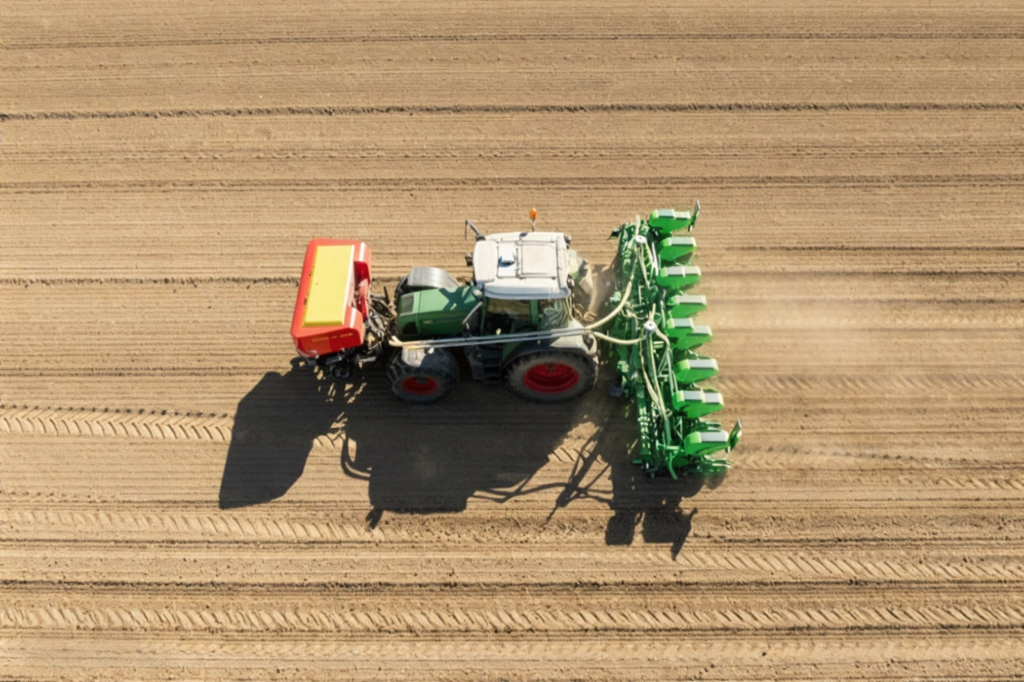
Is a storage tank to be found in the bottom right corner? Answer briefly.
No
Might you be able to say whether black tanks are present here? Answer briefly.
No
